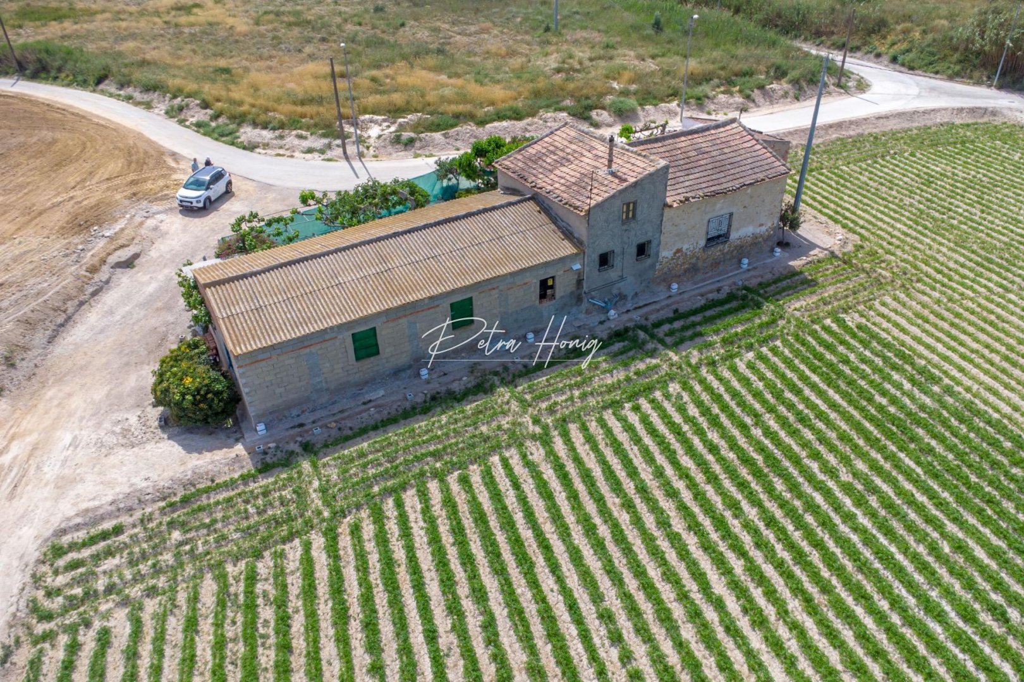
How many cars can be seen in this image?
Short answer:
1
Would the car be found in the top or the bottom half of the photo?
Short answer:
top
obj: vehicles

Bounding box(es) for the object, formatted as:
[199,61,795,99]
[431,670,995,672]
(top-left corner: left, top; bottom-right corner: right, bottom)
[172,164,232,208]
